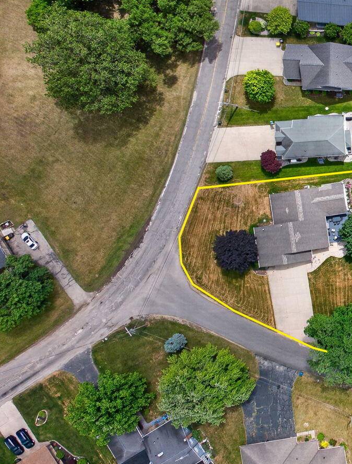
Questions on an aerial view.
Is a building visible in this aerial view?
Yes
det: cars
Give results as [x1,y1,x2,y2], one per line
[3,434,23,457]
[21,230,39,251]
[15,426,34,449]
